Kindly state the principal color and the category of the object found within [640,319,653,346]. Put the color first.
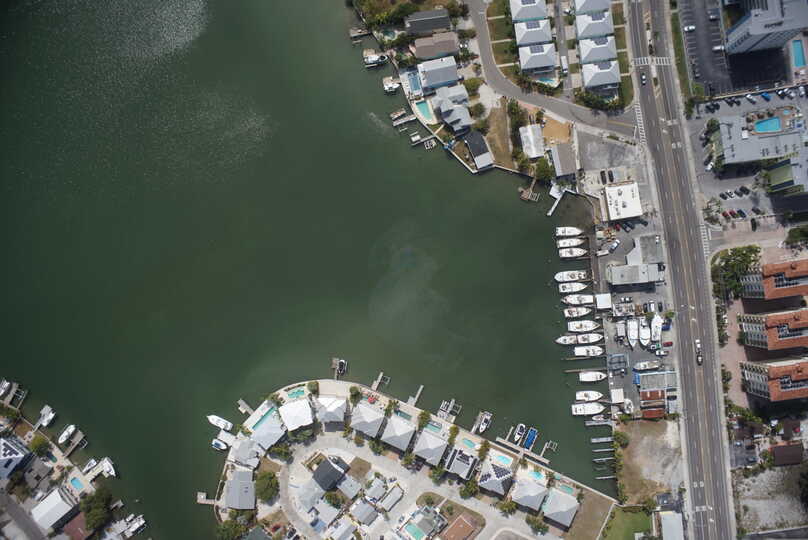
white boat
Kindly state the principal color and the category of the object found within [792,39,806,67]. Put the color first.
blue swimming pool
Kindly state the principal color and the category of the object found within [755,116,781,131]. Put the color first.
blue swimming pool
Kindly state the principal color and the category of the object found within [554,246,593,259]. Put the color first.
white boat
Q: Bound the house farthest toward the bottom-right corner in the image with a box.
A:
[771,440,804,465]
